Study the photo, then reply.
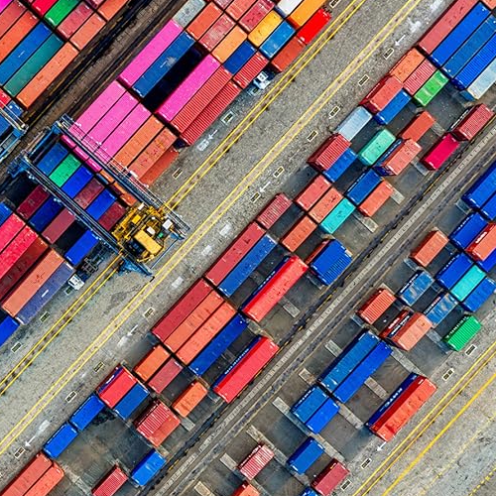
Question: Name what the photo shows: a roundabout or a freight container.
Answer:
freight container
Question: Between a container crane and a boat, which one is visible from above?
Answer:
container crane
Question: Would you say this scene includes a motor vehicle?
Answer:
Yes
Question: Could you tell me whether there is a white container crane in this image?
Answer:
No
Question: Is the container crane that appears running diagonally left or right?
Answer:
left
